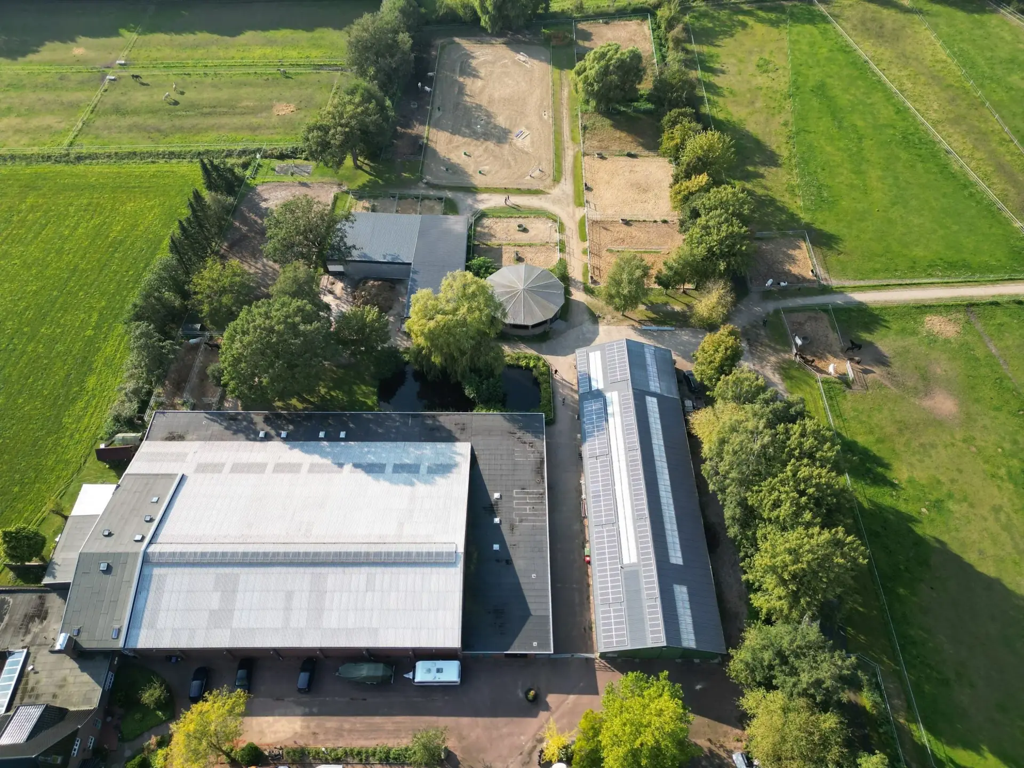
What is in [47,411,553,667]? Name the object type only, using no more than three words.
building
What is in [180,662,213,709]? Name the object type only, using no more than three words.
car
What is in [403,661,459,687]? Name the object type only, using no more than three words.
camper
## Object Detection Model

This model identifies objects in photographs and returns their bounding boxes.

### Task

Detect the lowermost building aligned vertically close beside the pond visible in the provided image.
[575,339,729,660]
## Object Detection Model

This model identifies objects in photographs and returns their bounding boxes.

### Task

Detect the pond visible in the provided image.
[375,361,542,411]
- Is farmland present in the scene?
Yes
